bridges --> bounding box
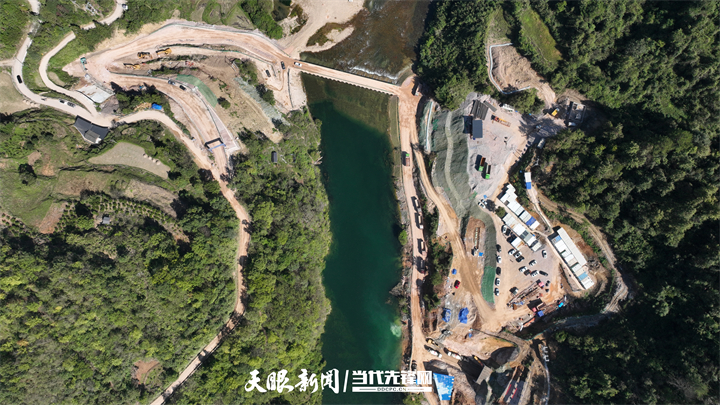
[291,57,405,98]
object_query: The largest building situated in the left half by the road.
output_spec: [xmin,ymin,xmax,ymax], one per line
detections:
[72,115,108,145]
